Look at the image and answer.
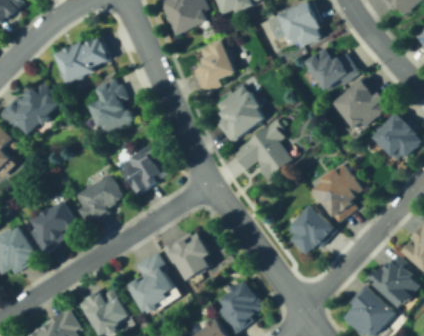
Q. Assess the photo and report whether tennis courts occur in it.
No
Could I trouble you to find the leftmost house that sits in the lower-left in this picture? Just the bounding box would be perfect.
[0,227,35,276]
